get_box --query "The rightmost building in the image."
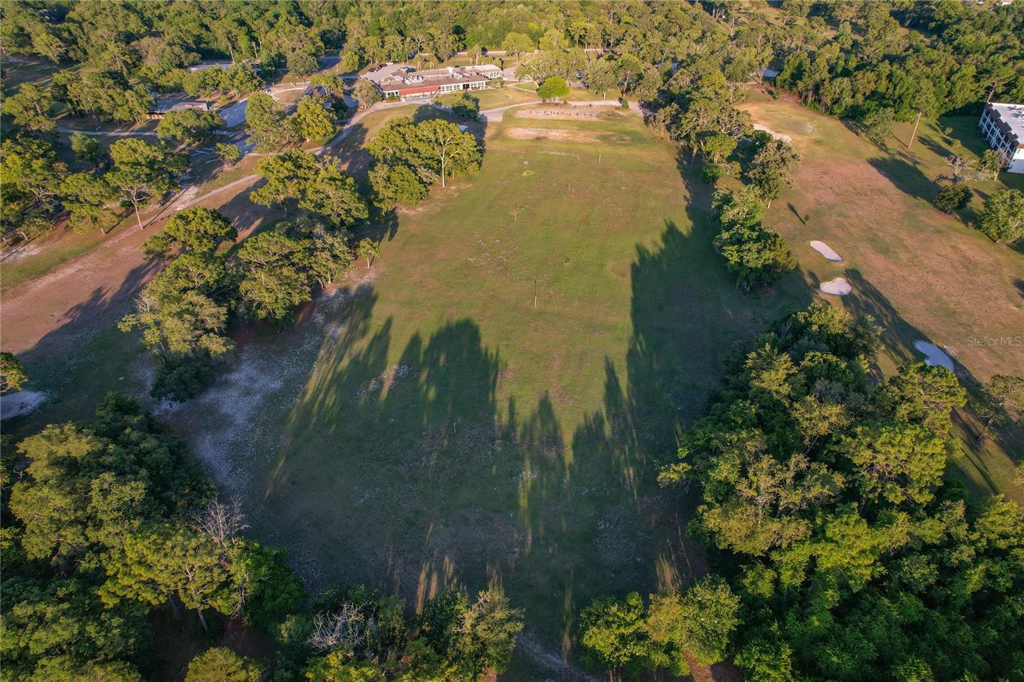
[978,102,1024,181]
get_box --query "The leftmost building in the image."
[145,93,206,116]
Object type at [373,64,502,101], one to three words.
building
